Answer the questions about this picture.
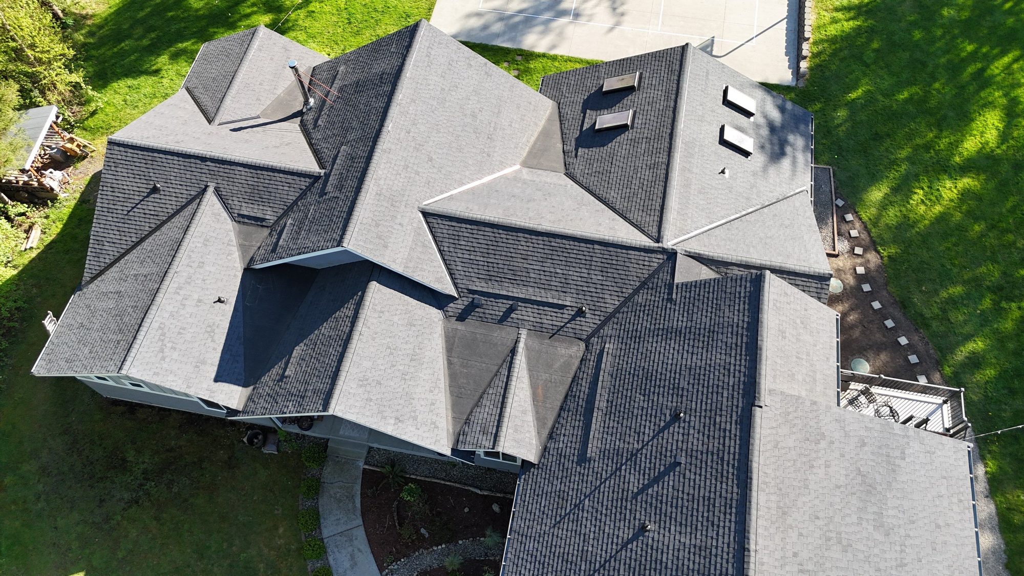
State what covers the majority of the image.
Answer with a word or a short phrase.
buildings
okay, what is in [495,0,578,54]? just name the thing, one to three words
sports court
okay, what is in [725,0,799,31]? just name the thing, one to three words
sports court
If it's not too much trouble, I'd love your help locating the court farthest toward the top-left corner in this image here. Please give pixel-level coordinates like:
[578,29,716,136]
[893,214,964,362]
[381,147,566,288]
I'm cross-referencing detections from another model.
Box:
[429,0,507,44]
